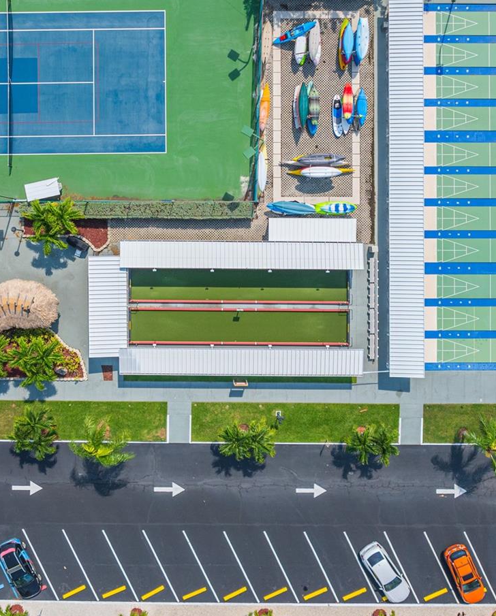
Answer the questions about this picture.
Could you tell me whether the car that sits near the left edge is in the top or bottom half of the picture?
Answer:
bottom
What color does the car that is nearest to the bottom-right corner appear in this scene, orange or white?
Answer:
orange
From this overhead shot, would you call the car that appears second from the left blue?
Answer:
No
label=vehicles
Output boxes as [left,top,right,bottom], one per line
[445,544,484,599]
[361,542,407,600]
[0,539,44,595]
